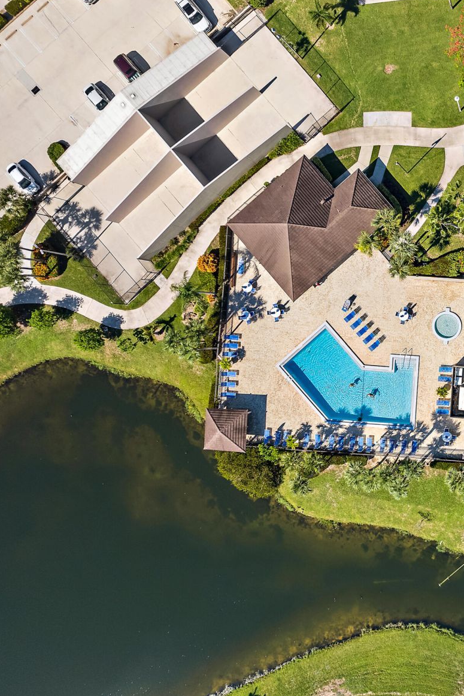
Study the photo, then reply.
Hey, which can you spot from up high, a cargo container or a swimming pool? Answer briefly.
swimming pool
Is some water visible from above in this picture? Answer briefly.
Yes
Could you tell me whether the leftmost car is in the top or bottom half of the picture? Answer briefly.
top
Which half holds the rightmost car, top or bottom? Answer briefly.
top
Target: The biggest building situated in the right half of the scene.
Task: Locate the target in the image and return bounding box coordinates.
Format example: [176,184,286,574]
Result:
[227,155,400,301]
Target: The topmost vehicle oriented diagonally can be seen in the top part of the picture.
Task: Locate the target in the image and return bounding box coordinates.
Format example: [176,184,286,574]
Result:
[173,0,213,34]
